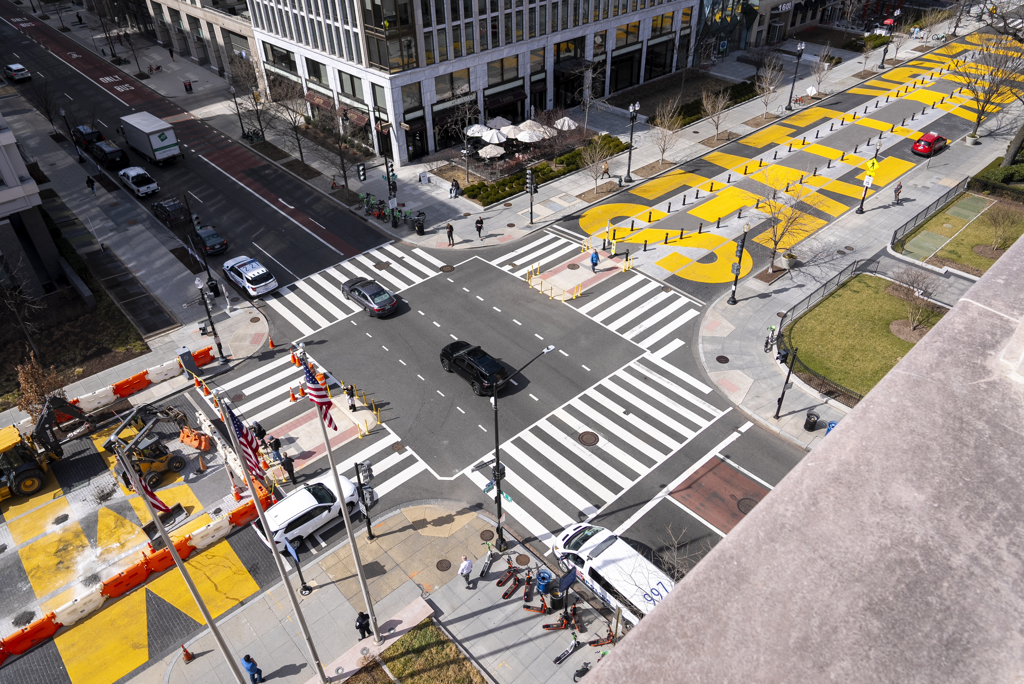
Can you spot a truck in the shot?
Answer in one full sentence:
Yes, the frame does contain a truck.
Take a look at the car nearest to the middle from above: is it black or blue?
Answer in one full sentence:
The color of the car nearest to the middle is black.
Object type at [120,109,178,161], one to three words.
truck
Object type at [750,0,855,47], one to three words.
building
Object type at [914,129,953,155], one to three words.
car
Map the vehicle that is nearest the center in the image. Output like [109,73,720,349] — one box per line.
[438,343,512,401]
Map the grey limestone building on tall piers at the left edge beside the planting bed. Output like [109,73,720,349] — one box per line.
[0,138,42,218]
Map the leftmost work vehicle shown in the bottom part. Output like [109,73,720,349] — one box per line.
[0,399,113,499]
